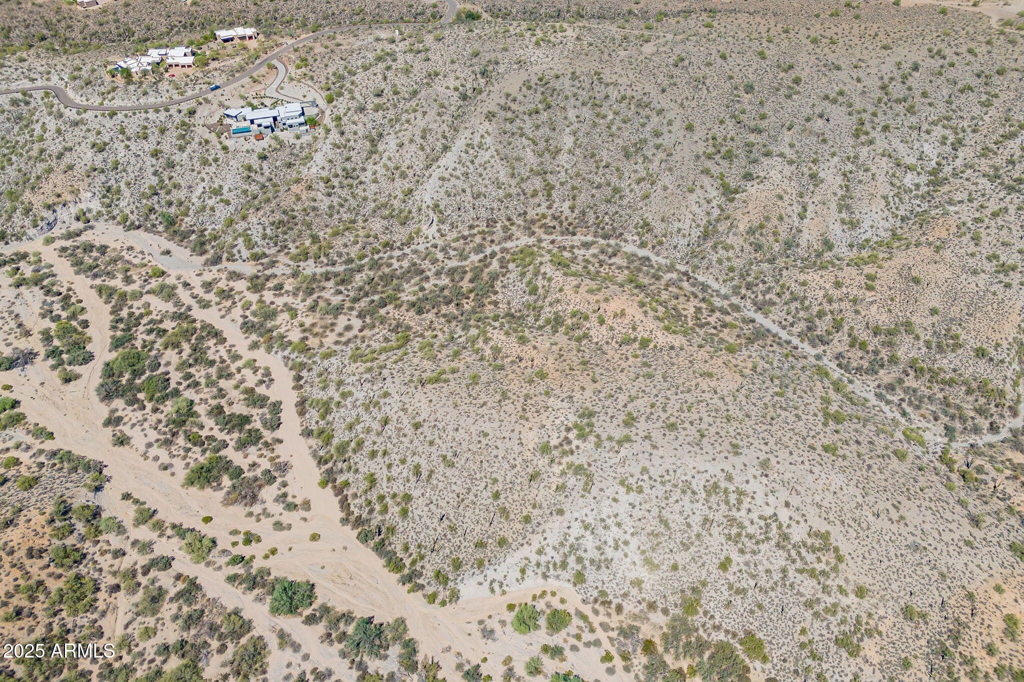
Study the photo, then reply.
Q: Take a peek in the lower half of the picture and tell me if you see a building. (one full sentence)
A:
No, there is no building in the lower half of the picture.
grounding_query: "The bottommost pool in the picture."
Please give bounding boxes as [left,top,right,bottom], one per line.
[232,125,253,138]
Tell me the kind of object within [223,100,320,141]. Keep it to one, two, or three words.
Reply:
house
